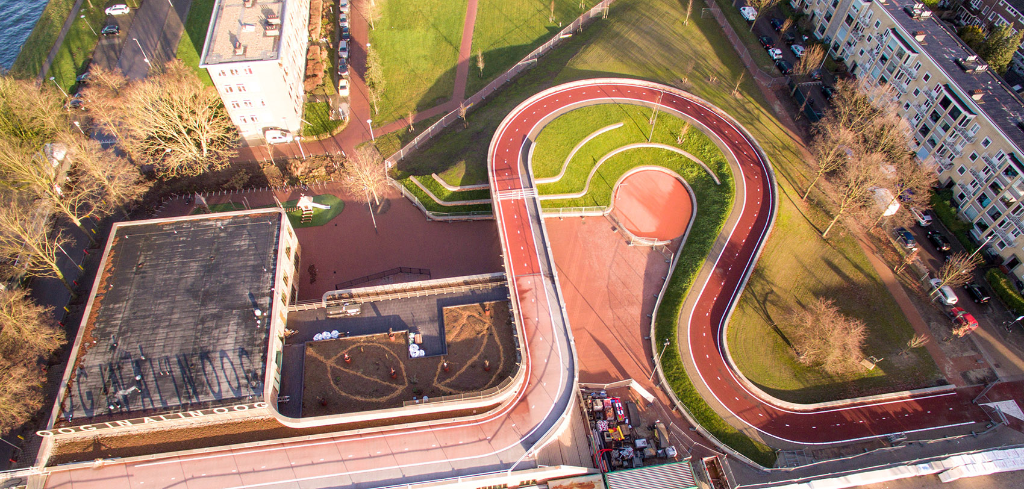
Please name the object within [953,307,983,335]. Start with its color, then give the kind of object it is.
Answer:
red car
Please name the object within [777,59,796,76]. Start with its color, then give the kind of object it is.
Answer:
black car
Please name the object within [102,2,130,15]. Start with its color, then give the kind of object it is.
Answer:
white vehicle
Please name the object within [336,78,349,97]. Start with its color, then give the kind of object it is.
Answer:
white vehicle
